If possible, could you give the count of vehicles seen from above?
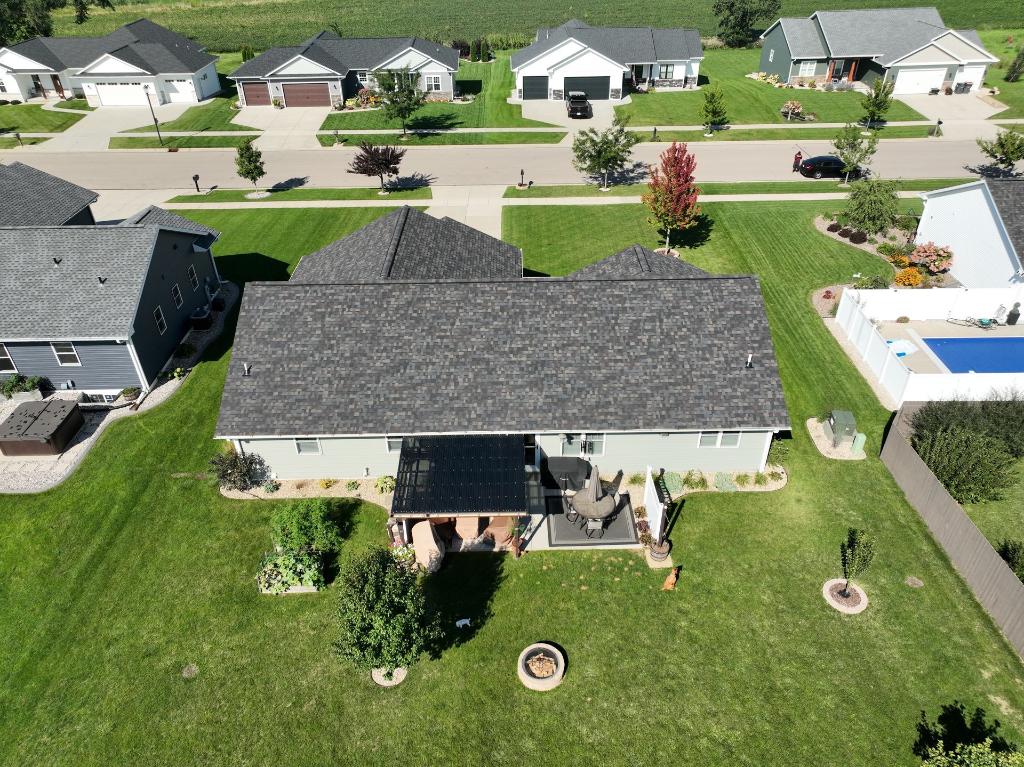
2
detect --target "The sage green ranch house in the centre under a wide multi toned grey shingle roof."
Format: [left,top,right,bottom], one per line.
[214,204,792,493]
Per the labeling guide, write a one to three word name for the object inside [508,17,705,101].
house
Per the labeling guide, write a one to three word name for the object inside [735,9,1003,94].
building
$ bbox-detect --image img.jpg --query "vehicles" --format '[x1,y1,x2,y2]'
[564,89,591,116]
[798,153,870,179]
